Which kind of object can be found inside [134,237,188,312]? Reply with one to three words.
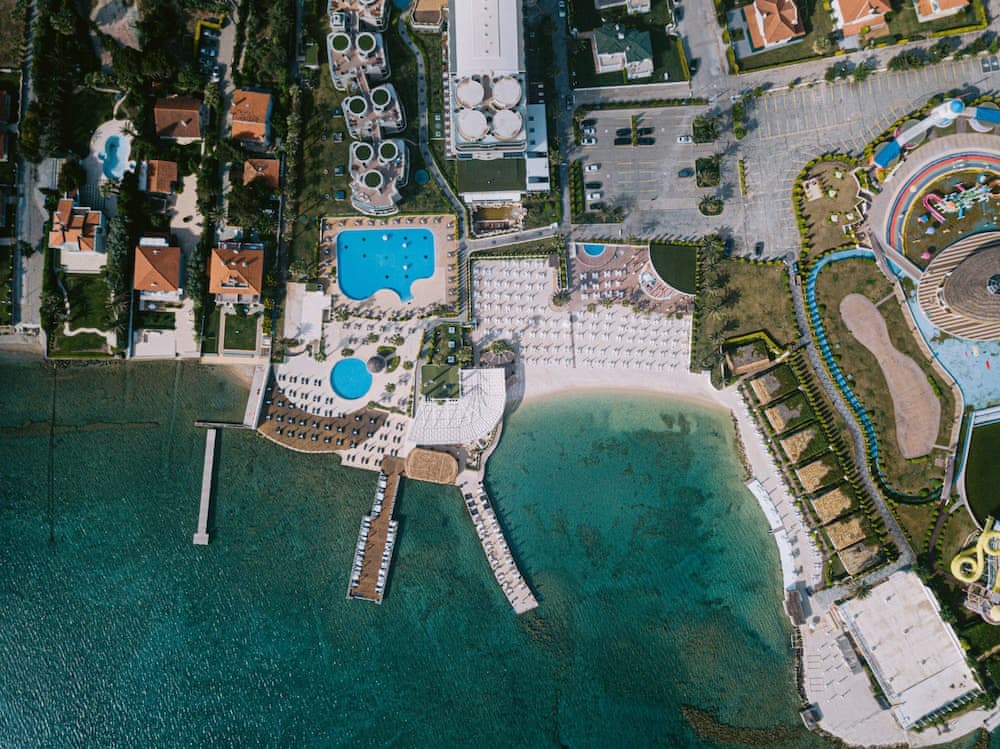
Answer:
house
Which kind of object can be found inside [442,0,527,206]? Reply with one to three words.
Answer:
building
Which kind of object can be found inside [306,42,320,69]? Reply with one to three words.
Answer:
shed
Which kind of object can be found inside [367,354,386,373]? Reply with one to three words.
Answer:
umbrella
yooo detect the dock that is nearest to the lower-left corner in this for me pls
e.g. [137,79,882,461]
[193,429,216,545]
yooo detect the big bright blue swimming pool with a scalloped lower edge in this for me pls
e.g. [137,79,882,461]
[334,226,438,303]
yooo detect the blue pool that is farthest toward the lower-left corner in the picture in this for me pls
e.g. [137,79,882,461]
[328,355,374,401]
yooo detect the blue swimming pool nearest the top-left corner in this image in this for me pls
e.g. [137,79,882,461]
[101,133,129,178]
